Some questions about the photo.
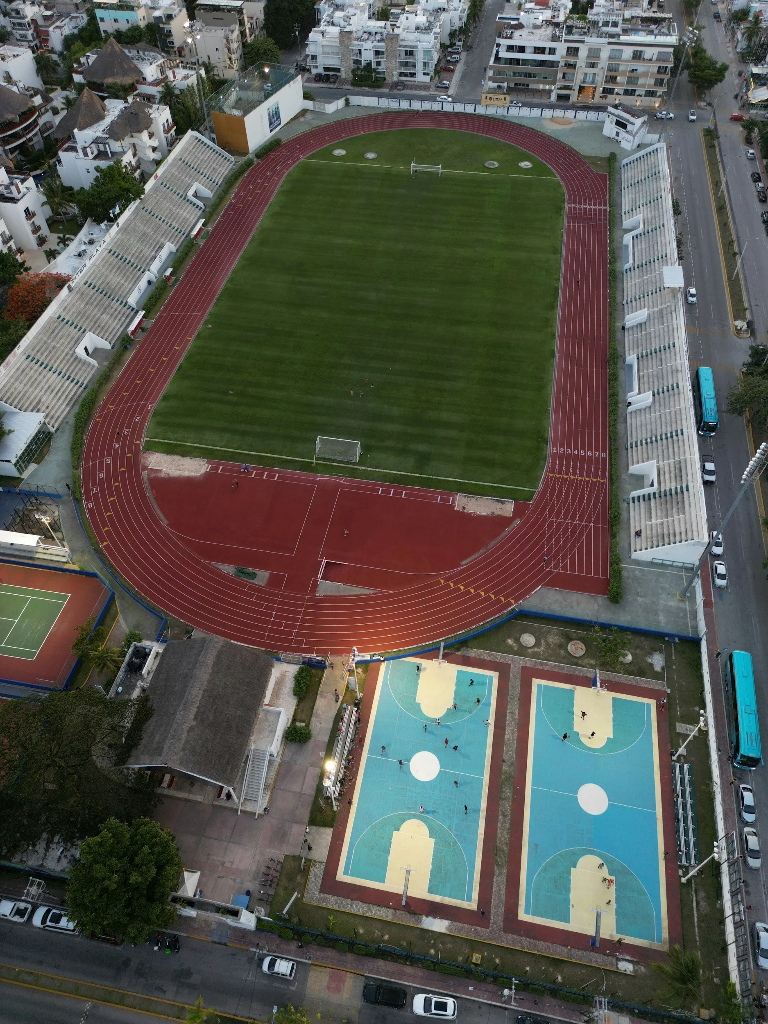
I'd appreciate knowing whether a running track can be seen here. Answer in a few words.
Yes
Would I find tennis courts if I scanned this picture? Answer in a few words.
Yes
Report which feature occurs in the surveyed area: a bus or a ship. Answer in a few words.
bus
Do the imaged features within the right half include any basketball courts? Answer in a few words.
Yes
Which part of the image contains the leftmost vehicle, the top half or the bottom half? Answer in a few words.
bottom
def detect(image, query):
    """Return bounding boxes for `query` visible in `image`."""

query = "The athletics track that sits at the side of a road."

[80,111,610,656]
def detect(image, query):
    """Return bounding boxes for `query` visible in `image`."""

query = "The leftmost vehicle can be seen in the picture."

[0,897,41,925]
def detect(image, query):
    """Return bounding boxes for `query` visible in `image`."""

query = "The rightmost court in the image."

[502,666,682,964]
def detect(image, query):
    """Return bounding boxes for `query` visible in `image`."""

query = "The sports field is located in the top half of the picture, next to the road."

[143,128,566,502]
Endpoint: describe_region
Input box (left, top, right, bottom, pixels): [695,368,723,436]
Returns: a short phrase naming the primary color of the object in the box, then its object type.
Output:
blue bus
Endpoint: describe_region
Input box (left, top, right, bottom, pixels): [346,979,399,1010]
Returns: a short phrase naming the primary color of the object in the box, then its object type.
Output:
black vehicle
